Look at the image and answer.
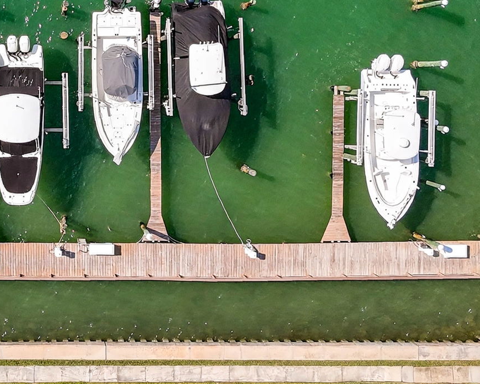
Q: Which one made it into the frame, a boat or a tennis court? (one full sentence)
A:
Visible in the photo is a boat.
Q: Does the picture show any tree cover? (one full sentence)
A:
No, there's no tree cover in this view.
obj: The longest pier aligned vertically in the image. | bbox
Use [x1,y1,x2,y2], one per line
[140,17,169,244]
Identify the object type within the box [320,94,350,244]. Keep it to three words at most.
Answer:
pier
